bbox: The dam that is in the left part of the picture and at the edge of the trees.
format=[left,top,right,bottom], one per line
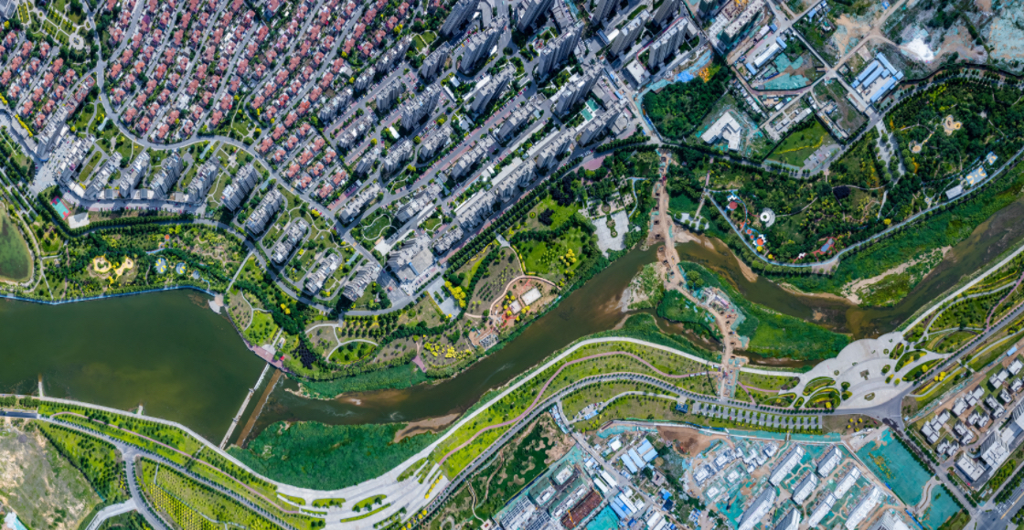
[219,364,282,447]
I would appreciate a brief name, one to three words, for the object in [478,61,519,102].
building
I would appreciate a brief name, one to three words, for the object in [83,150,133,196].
building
